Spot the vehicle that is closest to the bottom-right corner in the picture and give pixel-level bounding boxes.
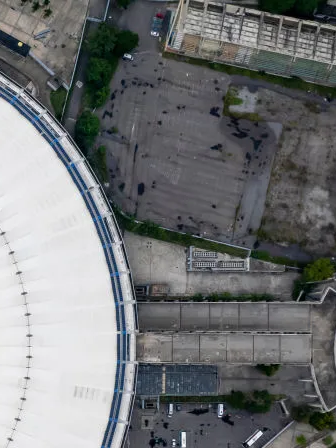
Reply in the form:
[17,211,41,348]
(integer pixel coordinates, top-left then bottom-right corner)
[244,429,264,446]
